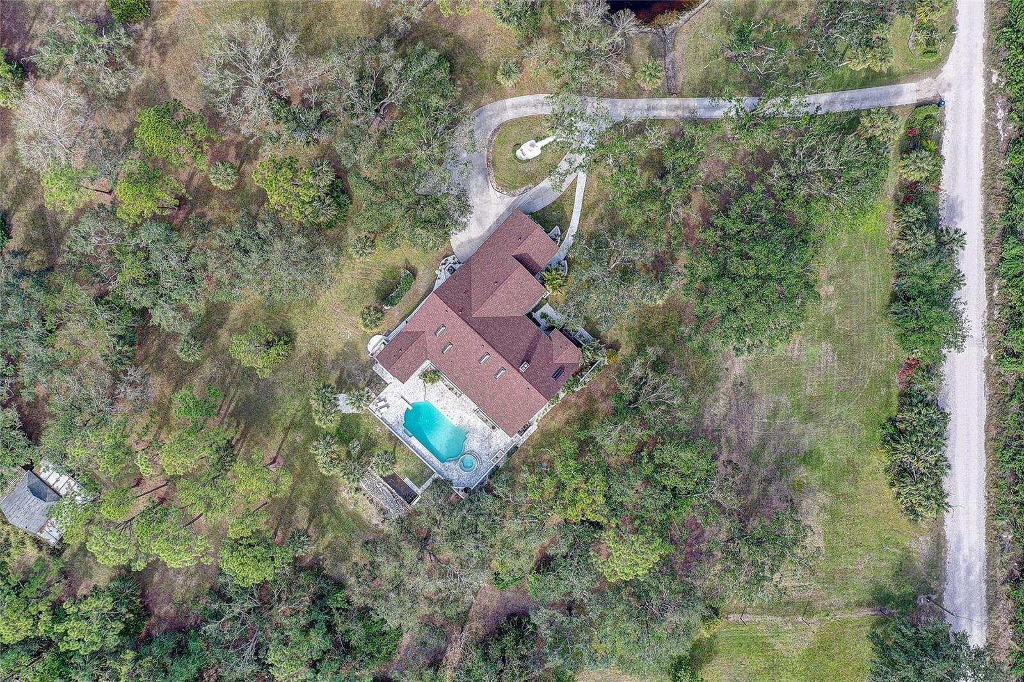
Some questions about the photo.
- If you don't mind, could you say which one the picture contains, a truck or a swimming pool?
swimming pool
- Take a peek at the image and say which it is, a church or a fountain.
fountain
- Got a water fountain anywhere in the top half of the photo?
Yes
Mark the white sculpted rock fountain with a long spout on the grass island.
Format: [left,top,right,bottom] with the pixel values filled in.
[516,136,563,160]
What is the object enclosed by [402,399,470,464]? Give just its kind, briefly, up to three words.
swimming pool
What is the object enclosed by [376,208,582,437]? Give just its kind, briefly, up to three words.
house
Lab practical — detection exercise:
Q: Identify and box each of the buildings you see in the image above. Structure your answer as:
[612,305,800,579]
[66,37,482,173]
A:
[376,208,582,437]
[0,471,66,534]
